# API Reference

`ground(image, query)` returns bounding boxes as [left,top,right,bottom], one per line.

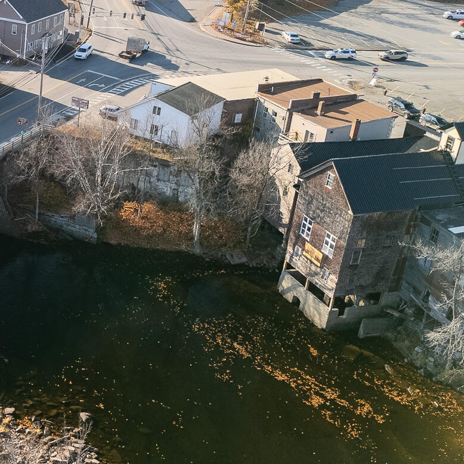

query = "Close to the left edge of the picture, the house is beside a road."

[0,0,72,60]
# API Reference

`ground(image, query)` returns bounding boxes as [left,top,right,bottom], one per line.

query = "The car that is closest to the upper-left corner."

[74,41,94,55]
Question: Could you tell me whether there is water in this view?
Yes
